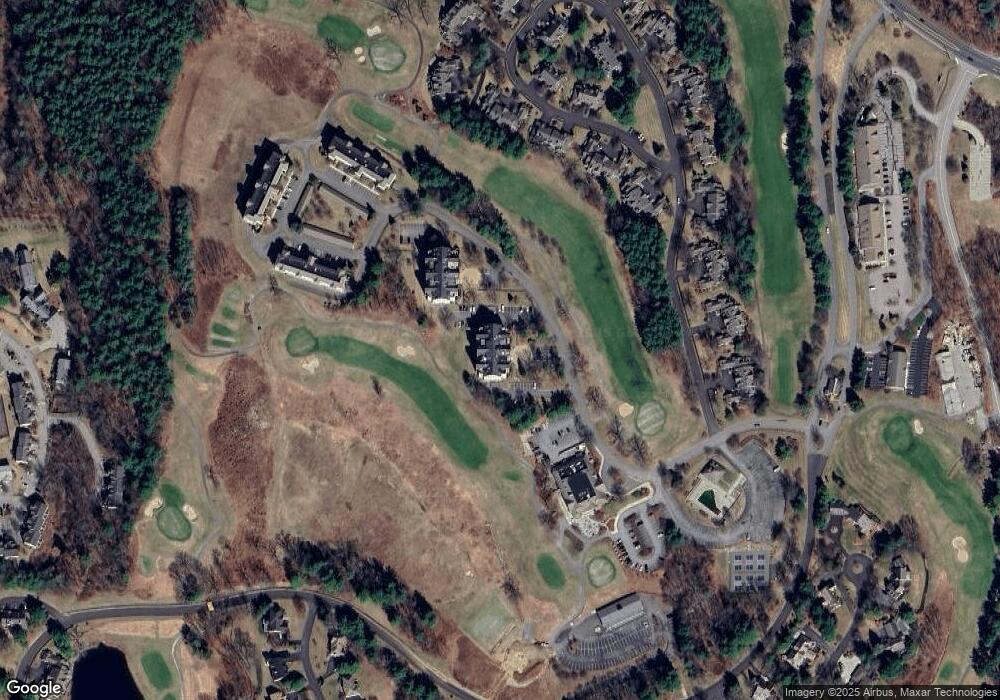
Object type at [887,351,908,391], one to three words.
building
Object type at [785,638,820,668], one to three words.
house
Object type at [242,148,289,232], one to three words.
building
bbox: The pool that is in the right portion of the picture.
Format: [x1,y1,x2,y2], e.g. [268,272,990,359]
[697,488,721,515]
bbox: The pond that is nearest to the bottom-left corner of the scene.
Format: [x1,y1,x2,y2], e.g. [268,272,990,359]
[72,643,143,700]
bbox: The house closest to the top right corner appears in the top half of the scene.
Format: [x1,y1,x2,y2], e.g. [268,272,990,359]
[863,103,885,126]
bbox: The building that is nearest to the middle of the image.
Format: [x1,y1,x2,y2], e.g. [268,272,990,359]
[476,323,509,383]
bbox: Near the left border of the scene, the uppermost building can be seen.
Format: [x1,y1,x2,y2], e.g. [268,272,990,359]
[21,263,37,291]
